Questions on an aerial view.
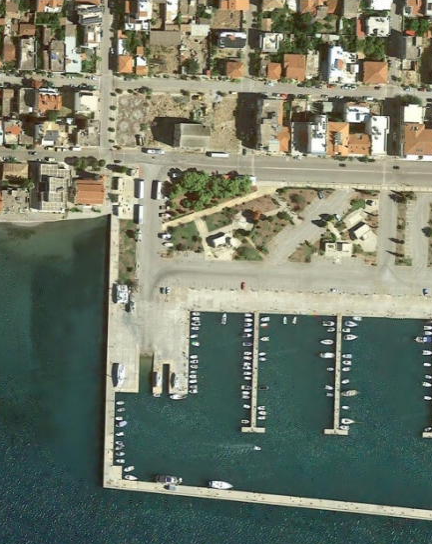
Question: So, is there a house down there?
Yes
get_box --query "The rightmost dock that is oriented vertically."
[323,316,348,435]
